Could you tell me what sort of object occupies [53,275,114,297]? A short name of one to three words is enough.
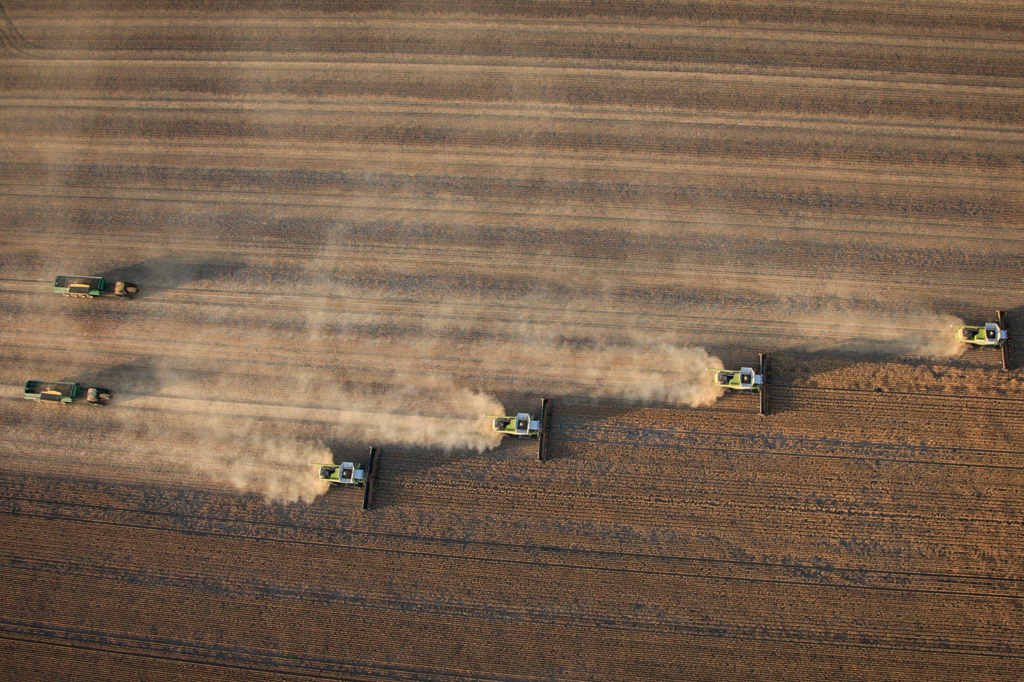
trailer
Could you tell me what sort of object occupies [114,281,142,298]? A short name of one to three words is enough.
work vehicle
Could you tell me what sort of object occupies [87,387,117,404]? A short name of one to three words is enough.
work vehicle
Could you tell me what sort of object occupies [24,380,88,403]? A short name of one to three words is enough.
trailer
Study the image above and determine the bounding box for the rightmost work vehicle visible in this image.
[947,309,1015,371]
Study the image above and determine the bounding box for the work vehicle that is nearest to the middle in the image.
[482,398,554,461]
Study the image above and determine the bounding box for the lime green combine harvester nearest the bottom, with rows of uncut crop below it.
[307,446,383,511]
